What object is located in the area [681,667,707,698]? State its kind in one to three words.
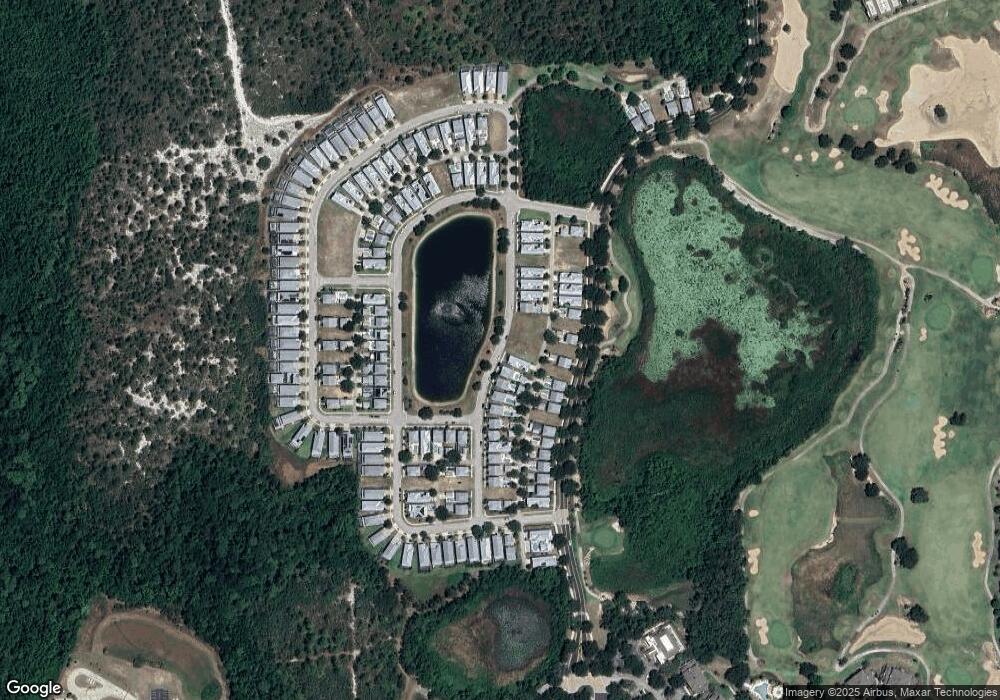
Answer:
building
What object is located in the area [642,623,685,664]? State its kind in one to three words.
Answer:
building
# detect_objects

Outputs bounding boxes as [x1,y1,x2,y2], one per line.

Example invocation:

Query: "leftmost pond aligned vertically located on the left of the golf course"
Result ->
[415,215,494,402]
